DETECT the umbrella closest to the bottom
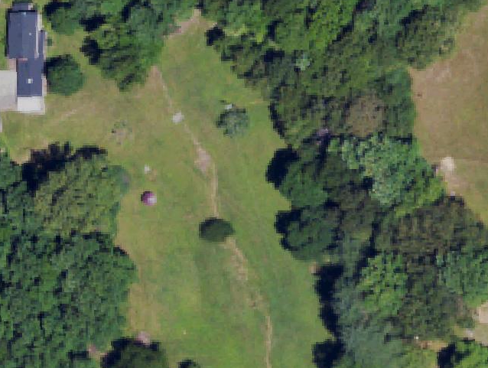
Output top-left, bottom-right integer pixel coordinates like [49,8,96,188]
[141,191,154,204]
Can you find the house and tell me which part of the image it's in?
top left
